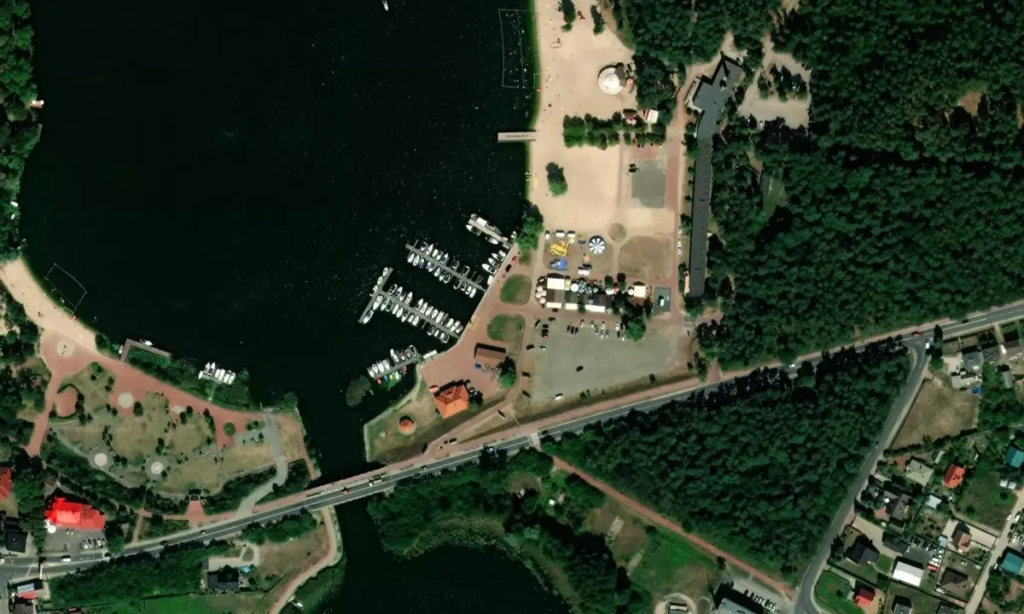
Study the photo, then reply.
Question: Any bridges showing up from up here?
Yes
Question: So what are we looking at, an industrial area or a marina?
marina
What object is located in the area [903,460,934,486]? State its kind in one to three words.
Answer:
house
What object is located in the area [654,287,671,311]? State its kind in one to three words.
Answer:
building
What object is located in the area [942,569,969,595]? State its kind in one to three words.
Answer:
house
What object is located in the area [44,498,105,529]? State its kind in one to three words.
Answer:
building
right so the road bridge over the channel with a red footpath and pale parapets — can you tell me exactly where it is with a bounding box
[311,467,384,513]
